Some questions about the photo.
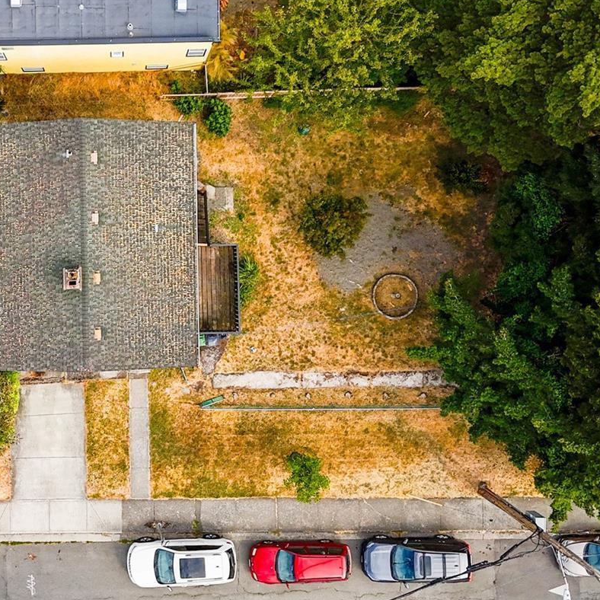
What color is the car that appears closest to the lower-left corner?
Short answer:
white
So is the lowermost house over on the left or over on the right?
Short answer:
left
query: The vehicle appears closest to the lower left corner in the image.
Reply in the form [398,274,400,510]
[127,535,233,590]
